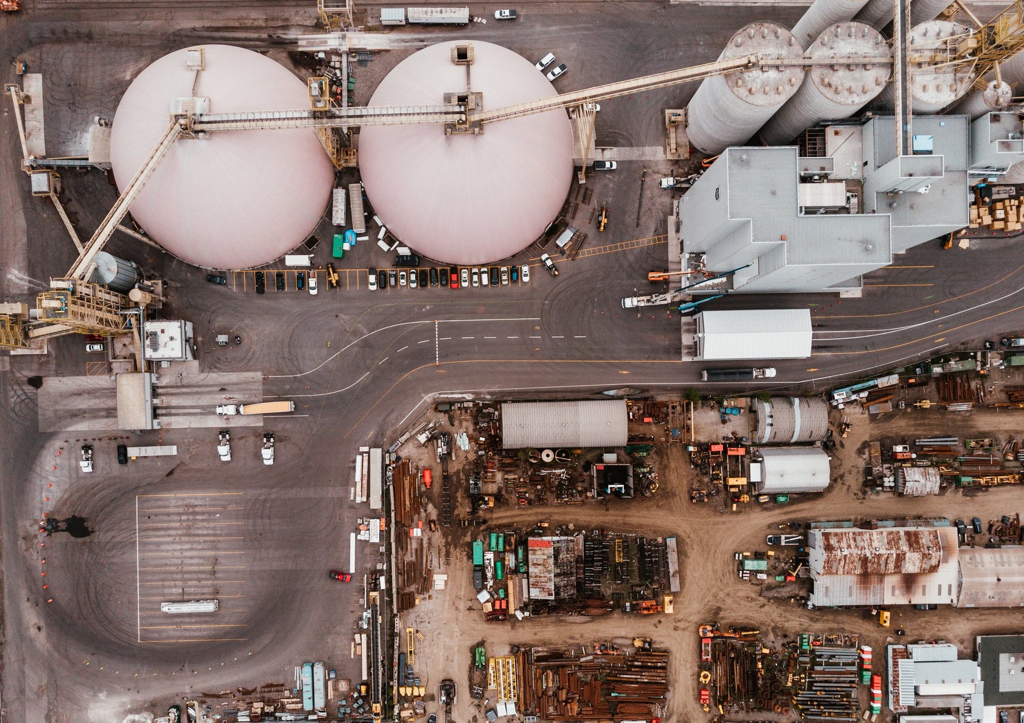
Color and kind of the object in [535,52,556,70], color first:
white vehicle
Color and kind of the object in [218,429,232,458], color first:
white vehicle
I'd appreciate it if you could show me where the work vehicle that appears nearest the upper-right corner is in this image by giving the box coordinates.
[941,234,953,252]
